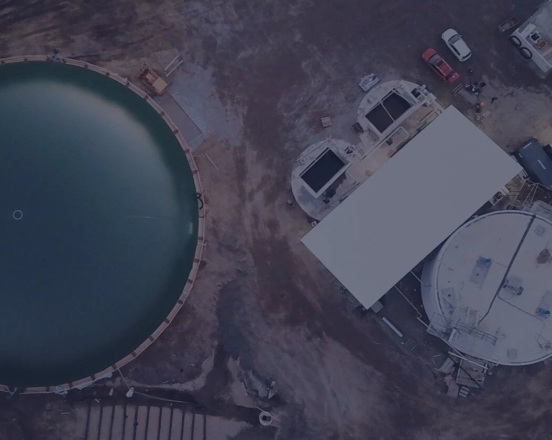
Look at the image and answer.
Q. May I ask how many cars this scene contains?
2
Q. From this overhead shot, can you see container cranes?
No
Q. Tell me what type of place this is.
industrial area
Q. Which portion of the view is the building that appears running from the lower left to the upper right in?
right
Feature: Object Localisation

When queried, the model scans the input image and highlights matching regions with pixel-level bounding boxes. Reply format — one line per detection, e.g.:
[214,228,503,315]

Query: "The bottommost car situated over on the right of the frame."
[419,47,461,87]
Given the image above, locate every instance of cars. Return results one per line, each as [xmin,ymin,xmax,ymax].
[437,27,475,66]
[419,47,461,87]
